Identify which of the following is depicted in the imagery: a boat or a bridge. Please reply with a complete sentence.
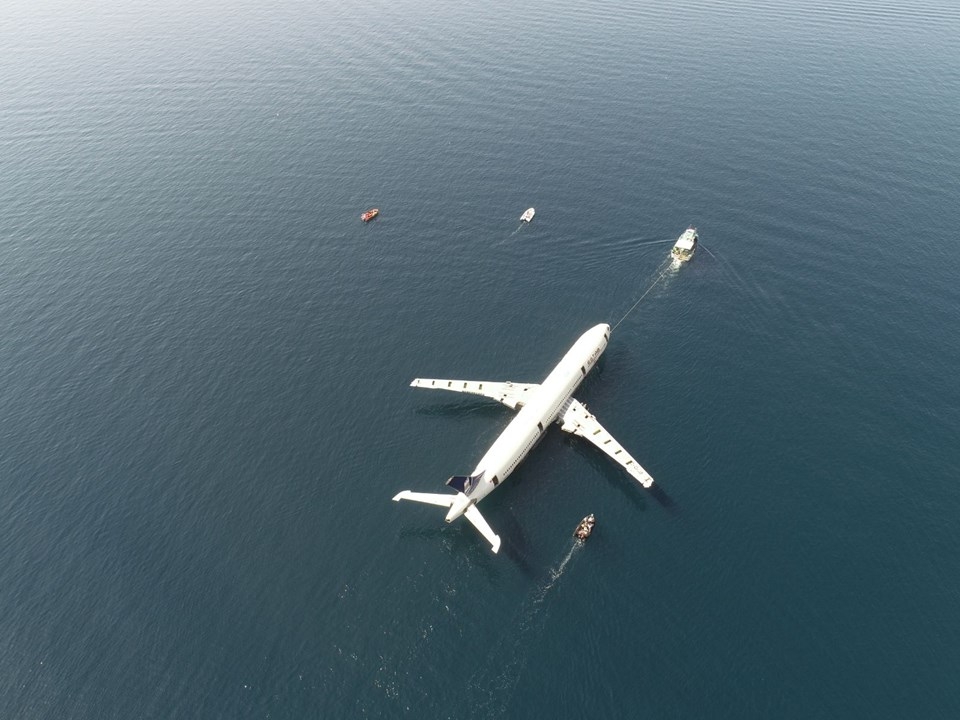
I can see a boat in this picture.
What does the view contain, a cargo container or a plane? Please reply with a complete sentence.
There is a plane in the scene.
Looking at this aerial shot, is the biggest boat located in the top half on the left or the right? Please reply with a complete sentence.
The biggest boat located in the top half appears in the right half of the scene.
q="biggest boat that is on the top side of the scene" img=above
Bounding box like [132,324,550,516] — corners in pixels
[673,226,698,263]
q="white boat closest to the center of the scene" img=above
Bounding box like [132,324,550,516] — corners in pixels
[520,208,535,221]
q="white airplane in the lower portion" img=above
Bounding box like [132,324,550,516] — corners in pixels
[393,324,653,554]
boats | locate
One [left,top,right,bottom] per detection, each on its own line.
[361,209,379,220]
[520,208,535,221]
[573,514,593,539]
[673,226,698,263]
